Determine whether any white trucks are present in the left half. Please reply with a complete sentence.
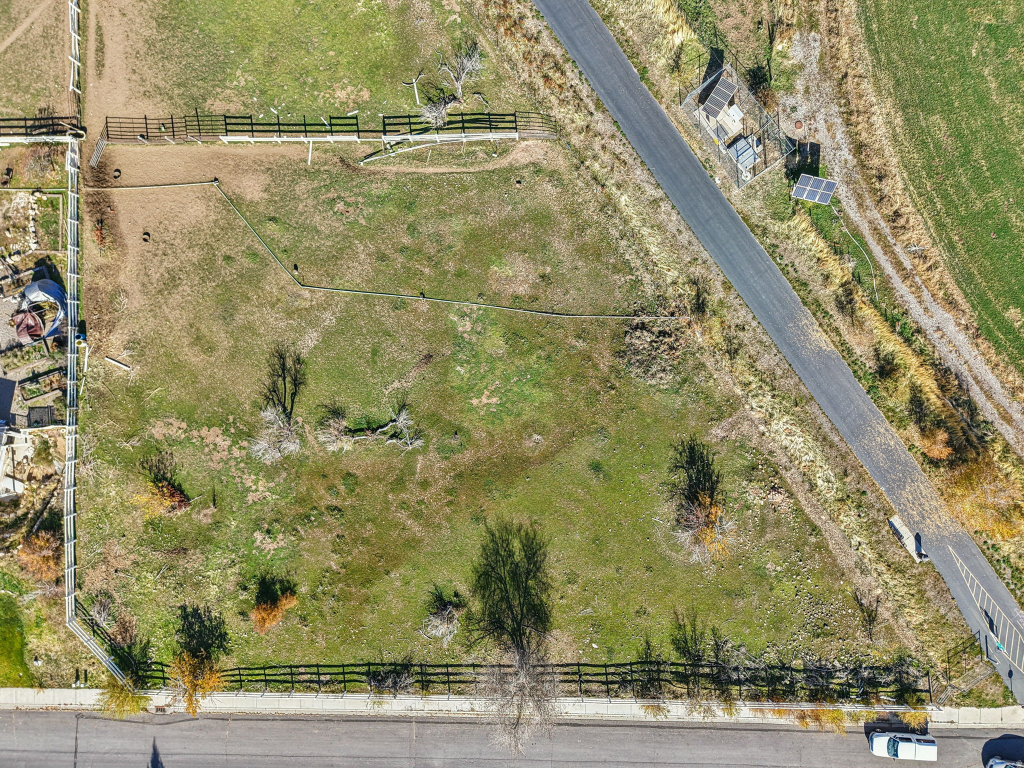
No, no white truck can be made out in the left half.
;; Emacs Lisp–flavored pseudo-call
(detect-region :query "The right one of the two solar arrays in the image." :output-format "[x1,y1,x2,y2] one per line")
[792,174,838,204]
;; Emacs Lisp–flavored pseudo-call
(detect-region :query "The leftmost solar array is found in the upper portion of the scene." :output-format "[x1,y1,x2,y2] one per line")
[701,77,738,119]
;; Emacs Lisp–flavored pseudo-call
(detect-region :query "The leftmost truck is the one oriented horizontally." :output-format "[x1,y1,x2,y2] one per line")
[870,730,936,760]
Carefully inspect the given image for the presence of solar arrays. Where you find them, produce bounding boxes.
[701,77,738,119]
[792,174,838,204]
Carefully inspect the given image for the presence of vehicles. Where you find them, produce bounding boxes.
[870,730,936,760]
[986,757,1024,768]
